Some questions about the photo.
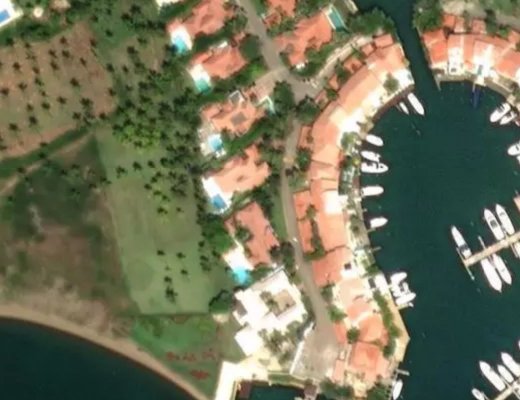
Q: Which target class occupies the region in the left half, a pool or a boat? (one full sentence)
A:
The one visible in the left half is a pool.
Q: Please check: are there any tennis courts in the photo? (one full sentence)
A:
No, the photo shows no tennis court.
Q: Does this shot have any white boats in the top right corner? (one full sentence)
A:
Yes, you'll find a white boat in the top right corner.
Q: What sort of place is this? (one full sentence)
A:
The picture captures a residential area.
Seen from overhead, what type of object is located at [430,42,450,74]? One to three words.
house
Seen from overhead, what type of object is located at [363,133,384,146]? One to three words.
boat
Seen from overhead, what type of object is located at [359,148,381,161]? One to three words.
boat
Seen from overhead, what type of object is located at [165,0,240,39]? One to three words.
house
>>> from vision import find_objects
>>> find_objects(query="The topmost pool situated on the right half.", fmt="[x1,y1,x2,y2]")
[325,8,345,31]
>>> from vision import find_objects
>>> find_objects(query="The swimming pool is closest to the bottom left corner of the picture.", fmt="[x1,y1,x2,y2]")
[225,245,254,285]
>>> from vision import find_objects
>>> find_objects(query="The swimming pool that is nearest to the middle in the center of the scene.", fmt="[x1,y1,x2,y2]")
[201,179,232,214]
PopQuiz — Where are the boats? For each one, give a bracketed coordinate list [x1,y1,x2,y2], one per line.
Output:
[392,292,417,307]
[498,364,515,384]
[451,224,474,259]
[496,202,516,237]
[483,206,507,244]
[499,111,518,125]
[407,92,425,115]
[478,358,507,392]
[471,388,485,400]
[476,254,501,293]
[489,98,513,122]
[363,133,384,146]
[393,379,405,400]
[393,283,401,298]
[360,162,389,173]
[359,148,381,161]
[398,101,409,115]
[500,350,520,381]
[507,240,520,265]
[489,251,511,286]
[368,217,389,227]
[361,186,384,195]
[507,143,520,154]
[472,88,479,106]
[388,273,408,287]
